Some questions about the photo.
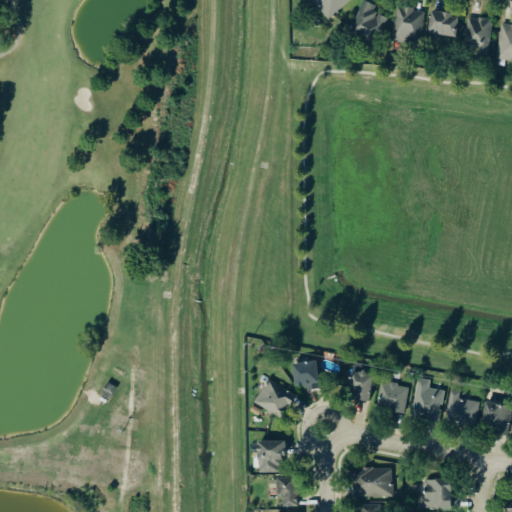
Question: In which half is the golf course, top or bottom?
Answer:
top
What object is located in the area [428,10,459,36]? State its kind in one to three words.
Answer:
house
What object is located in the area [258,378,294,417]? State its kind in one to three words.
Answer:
house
